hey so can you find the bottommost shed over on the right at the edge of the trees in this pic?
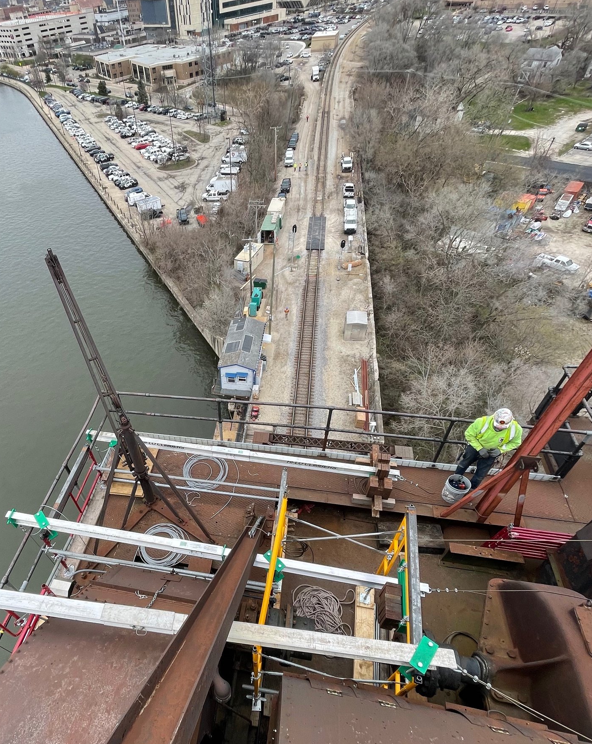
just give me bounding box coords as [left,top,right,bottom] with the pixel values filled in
[345,311,370,340]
